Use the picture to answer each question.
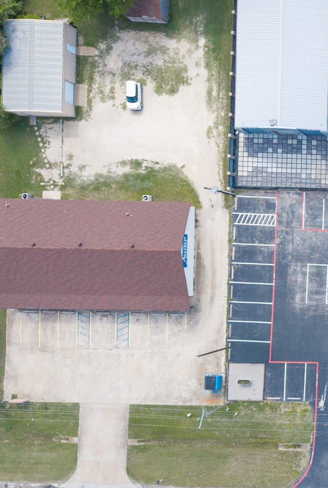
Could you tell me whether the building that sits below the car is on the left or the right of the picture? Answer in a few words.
left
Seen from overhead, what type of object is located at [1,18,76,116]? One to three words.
shed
